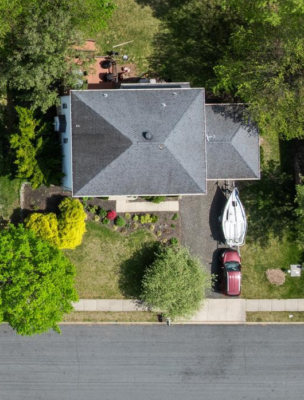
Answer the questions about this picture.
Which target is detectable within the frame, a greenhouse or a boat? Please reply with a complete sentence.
The one in the frame is a boat.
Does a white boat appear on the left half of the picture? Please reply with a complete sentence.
No, there's no white boat to be seen on the left half of the picture.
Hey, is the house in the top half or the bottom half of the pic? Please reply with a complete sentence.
It is in the top half that the house appears.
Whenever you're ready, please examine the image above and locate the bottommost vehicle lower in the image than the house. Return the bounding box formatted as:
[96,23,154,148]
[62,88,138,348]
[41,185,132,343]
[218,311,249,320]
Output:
[219,248,245,296]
